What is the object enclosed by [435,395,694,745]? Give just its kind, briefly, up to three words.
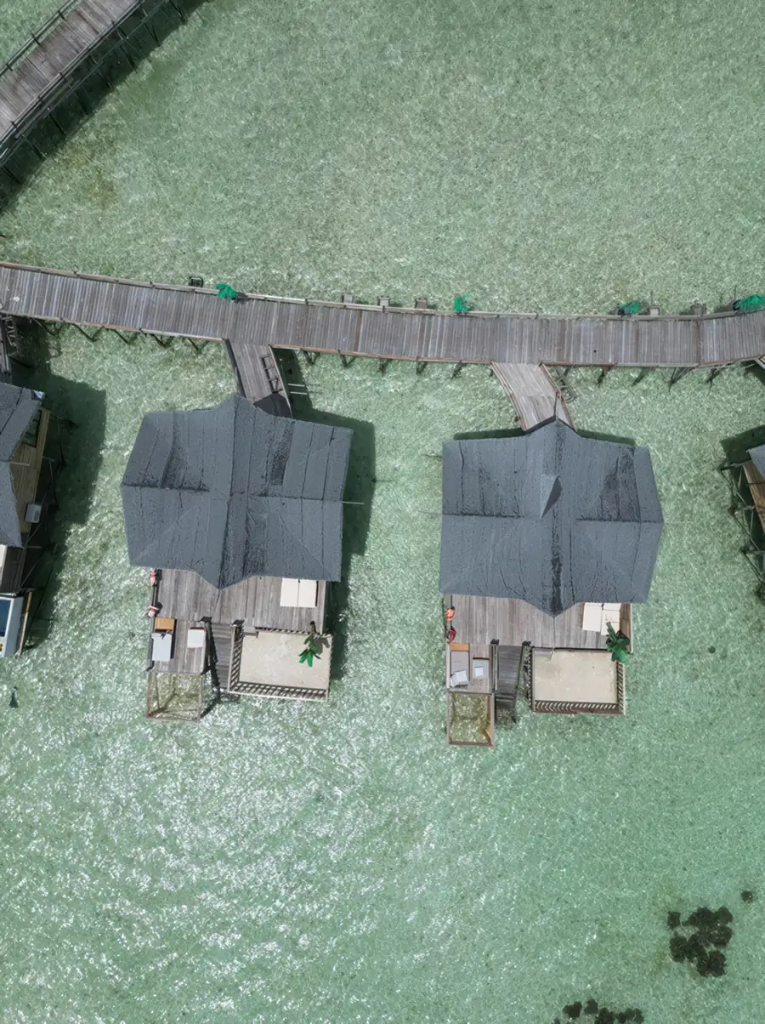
house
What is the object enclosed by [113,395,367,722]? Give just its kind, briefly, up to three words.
house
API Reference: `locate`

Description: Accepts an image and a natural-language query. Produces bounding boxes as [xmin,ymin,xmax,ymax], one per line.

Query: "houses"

[0,391,72,663]
[435,395,694,745]
[113,395,367,722]
[711,442,765,611]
